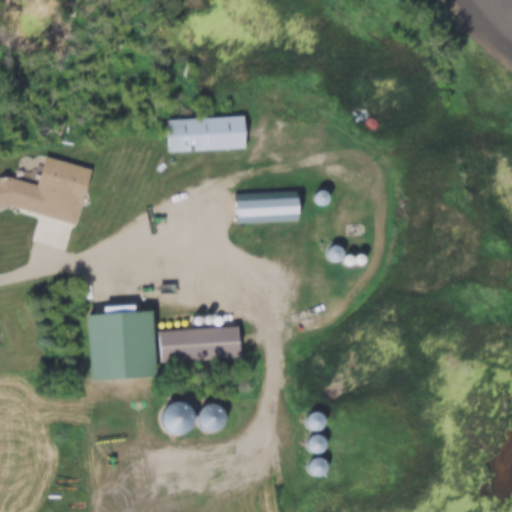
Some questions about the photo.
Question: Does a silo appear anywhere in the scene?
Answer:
Yes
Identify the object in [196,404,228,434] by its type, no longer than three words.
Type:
silo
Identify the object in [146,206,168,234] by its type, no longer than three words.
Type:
work vehicle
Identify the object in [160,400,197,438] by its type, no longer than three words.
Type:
silo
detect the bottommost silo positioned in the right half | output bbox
[305,456,329,478]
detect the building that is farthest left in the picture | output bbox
[0,156,92,225]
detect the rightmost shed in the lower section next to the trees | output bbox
[159,326,242,362]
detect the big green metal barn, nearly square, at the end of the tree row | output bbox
[88,312,156,380]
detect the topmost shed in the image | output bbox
[167,116,247,153]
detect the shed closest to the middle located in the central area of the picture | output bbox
[235,191,300,224]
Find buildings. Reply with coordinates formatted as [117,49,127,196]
[167,116,247,153]
[0,156,92,225]
[159,326,242,362]
[88,312,156,380]
[235,191,300,224]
